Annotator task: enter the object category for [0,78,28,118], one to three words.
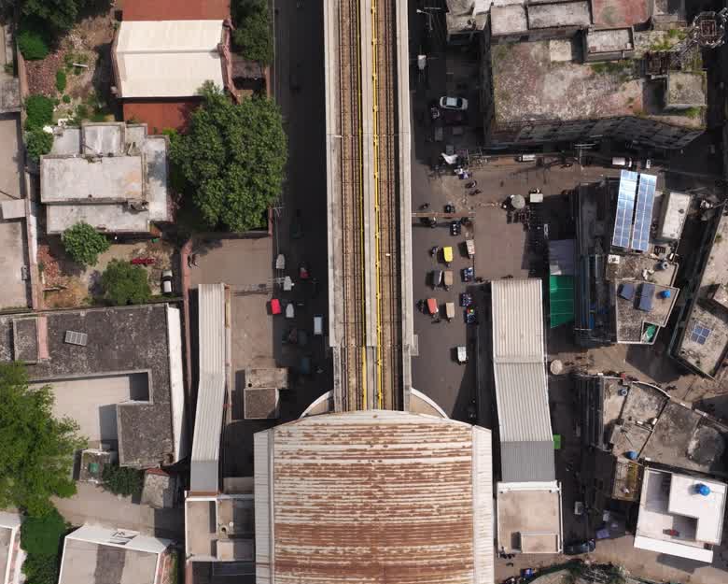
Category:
shed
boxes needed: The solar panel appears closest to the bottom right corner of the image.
[691,324,710,345]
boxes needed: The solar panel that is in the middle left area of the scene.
[64,331,86,346]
